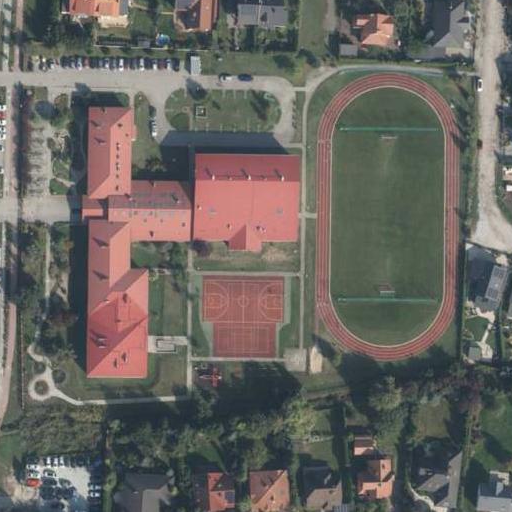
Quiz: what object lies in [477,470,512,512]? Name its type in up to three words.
house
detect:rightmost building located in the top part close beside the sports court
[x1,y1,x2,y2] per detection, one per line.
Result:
[194,154,301,252]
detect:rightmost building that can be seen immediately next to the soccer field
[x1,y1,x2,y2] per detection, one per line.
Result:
[466,257,510,312]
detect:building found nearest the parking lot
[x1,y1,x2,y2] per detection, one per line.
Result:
[116,474,169,512]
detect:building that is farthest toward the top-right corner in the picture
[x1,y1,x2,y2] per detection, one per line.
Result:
[428,0,471,53]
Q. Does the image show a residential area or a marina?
residential area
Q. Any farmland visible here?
No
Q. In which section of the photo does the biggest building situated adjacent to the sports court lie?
left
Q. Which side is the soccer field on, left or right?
right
